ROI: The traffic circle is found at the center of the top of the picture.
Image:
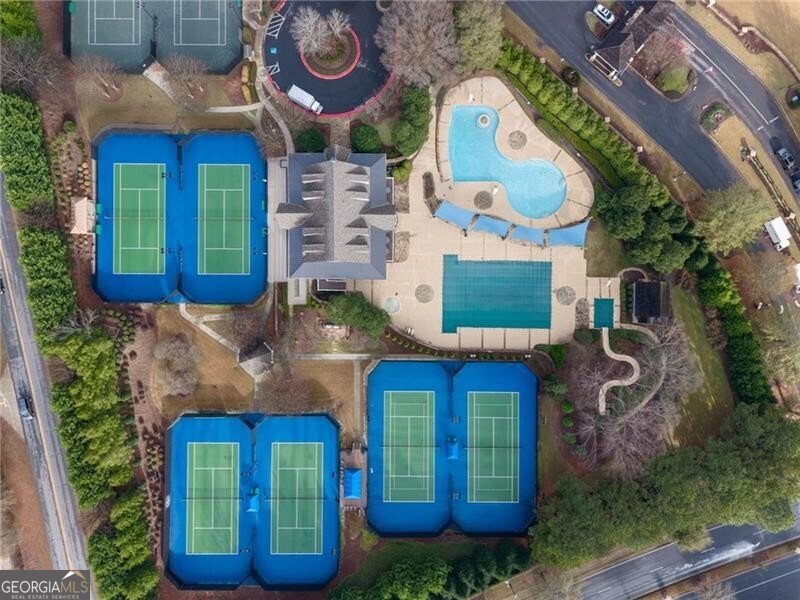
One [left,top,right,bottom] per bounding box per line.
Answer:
[299,17,362,80]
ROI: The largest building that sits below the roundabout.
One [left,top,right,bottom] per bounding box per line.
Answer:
[276,143,396,291]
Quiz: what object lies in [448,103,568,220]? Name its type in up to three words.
swimming pool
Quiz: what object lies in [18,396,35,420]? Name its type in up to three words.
car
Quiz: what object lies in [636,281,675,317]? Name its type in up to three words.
building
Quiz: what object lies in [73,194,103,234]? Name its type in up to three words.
building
